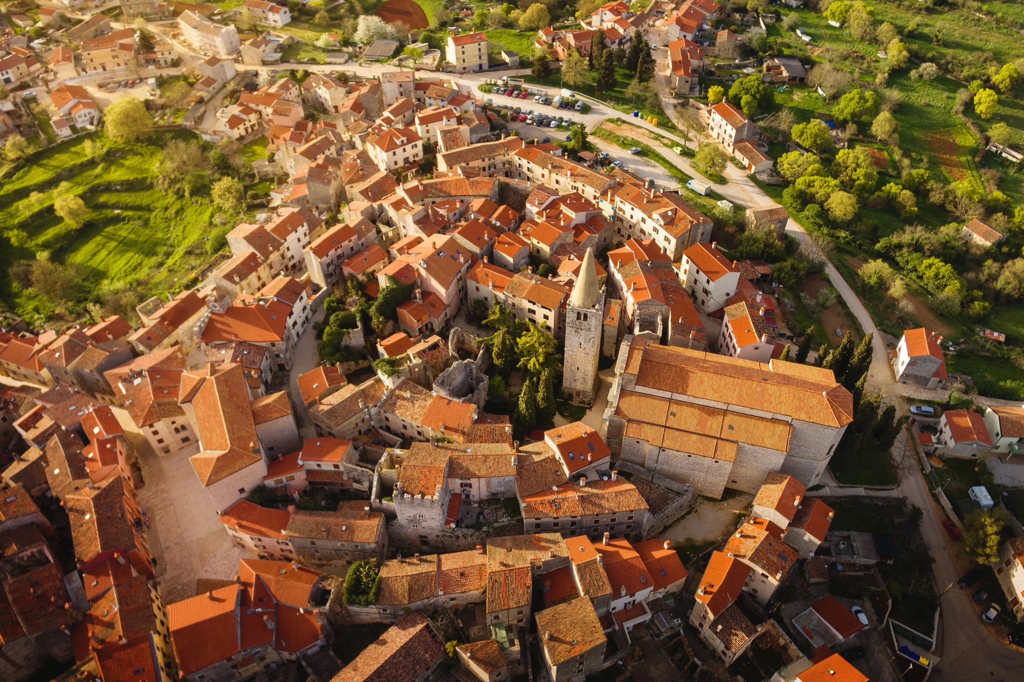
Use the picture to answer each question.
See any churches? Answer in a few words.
Yes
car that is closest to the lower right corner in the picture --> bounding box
[1000,627,1024,649]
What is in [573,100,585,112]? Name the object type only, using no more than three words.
vehicle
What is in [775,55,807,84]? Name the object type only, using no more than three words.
barn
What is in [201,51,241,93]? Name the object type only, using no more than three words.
house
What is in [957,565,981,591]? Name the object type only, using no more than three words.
car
